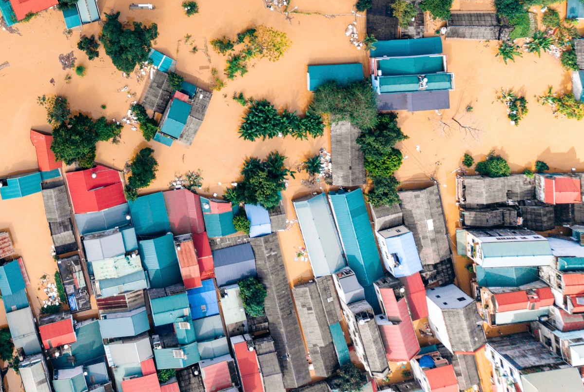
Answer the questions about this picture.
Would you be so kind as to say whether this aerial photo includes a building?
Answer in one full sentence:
Yes, the picture does show a building.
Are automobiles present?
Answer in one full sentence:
No, I can see no automobile in this picture.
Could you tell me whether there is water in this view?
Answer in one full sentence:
Yes, the picture does contain water.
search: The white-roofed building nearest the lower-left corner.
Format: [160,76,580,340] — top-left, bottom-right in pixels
[18,345,51,392]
